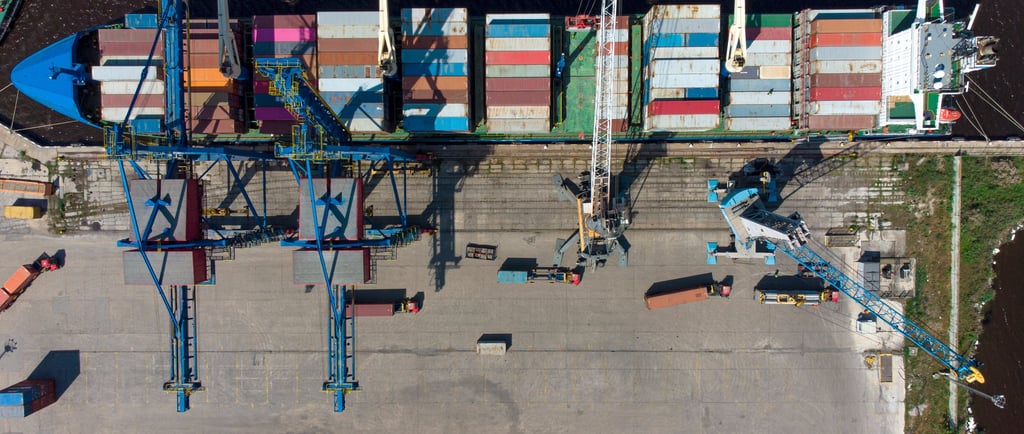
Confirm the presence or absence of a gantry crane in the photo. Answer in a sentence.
Yes, the frame does contain a gantry crane.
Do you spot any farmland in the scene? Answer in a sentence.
No, no farmland is visible.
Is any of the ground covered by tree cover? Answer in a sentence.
No, the picture contains no tree cover.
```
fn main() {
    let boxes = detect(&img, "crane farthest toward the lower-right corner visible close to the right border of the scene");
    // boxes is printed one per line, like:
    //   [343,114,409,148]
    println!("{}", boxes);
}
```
[707,159,991,387]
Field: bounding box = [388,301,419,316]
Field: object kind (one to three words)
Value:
vehicle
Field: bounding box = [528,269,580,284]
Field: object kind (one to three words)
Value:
vehicle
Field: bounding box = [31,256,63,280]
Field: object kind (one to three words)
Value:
truck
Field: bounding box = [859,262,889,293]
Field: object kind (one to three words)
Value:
shed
